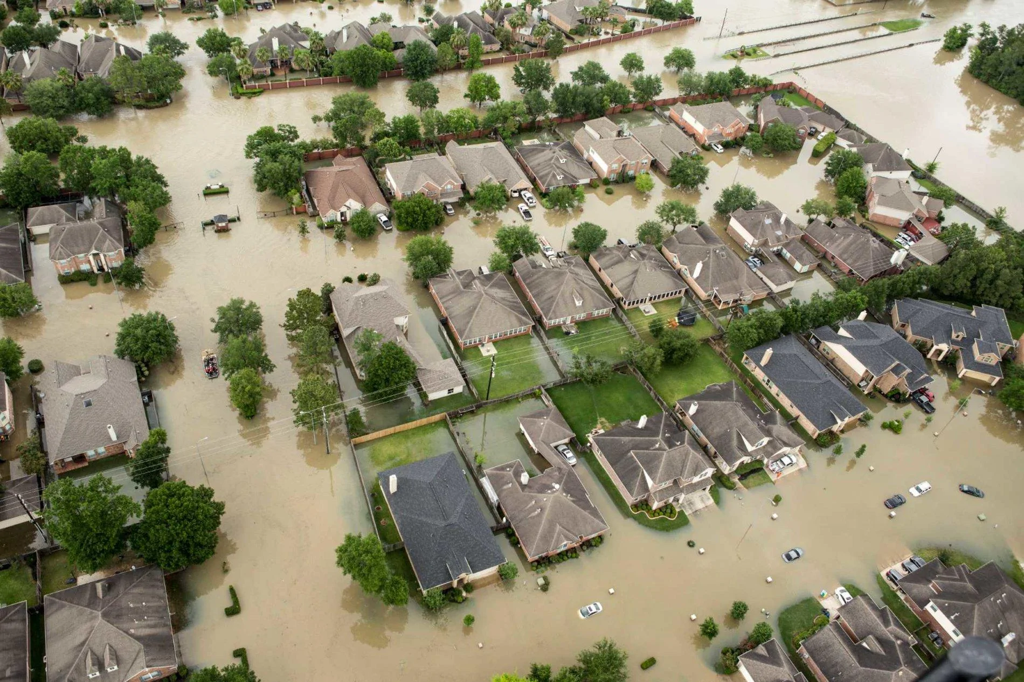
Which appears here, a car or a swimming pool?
car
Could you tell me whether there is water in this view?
Yes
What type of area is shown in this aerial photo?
residential area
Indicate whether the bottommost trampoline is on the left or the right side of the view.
right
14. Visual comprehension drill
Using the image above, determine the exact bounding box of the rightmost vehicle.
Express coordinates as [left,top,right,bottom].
[956,483,987,501]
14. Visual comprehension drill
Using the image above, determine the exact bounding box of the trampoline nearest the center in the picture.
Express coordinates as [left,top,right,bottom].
[674,304,700,325]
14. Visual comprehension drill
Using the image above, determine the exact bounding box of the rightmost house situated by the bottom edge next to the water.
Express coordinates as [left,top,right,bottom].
[892,553,1024,671]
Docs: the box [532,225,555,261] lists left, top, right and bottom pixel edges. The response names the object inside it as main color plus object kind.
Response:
white truck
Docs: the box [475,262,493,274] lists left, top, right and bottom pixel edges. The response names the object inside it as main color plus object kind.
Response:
white vehicle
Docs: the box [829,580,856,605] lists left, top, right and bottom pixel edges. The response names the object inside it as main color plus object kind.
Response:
white car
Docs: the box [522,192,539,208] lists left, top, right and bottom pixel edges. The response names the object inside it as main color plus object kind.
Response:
white vehicle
